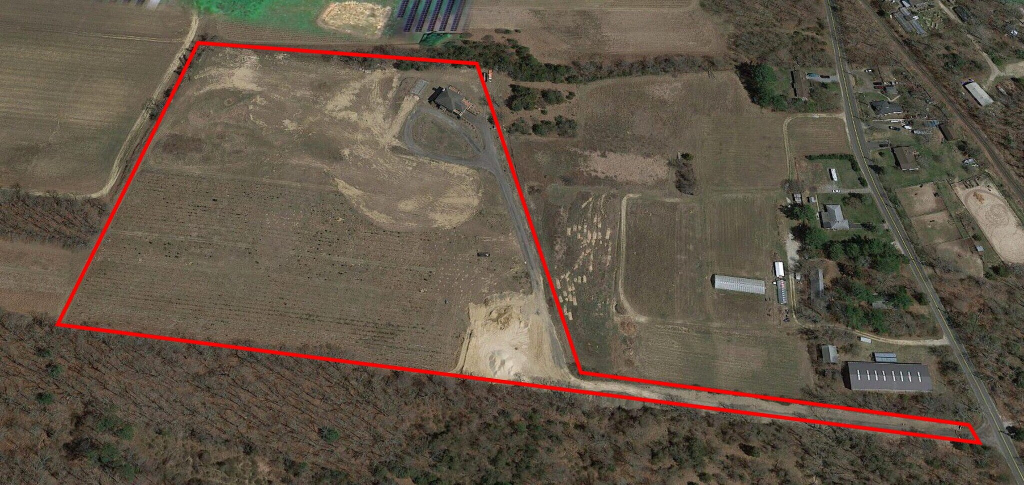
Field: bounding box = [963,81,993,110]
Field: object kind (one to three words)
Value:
building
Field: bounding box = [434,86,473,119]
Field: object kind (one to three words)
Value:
house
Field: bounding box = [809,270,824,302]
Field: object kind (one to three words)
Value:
house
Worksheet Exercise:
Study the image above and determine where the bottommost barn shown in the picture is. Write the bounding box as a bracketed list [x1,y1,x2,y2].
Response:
[845,363,932,394]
